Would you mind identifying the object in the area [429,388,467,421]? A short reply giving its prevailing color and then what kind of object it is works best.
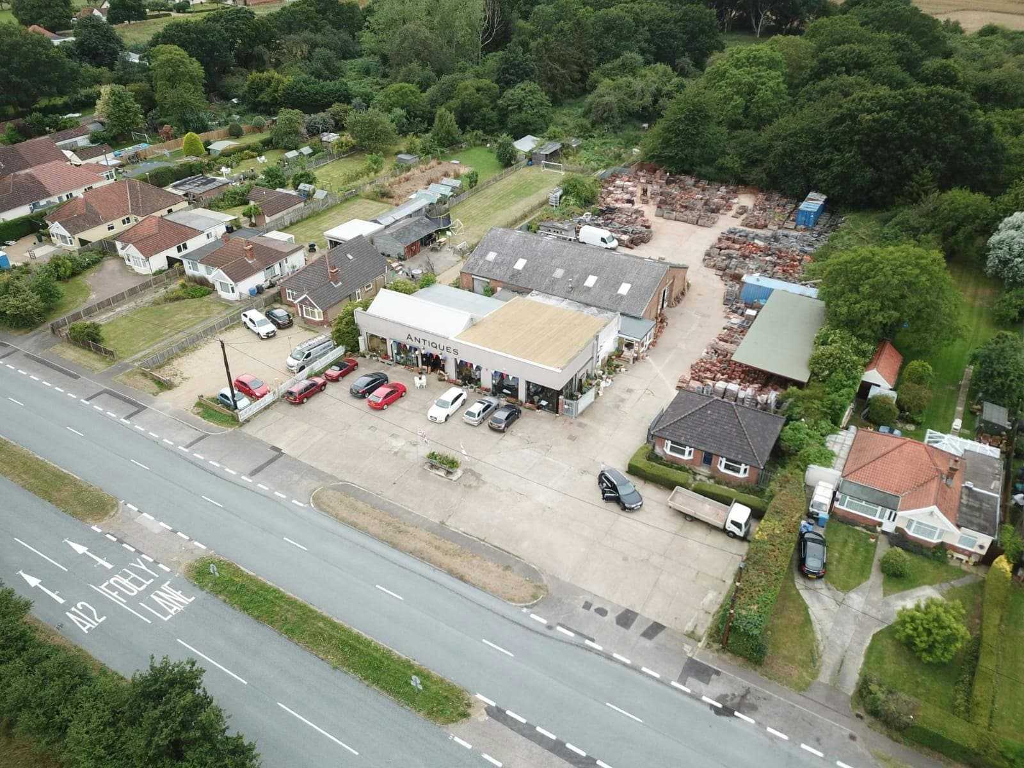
white car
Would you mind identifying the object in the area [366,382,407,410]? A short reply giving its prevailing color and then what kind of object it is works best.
red car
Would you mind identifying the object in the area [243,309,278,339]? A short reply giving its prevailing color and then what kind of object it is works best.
white truck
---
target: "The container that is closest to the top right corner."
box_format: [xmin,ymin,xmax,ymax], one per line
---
[796,193,827,229]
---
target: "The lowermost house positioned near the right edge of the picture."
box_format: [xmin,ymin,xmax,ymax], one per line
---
[822,423,1005,562]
